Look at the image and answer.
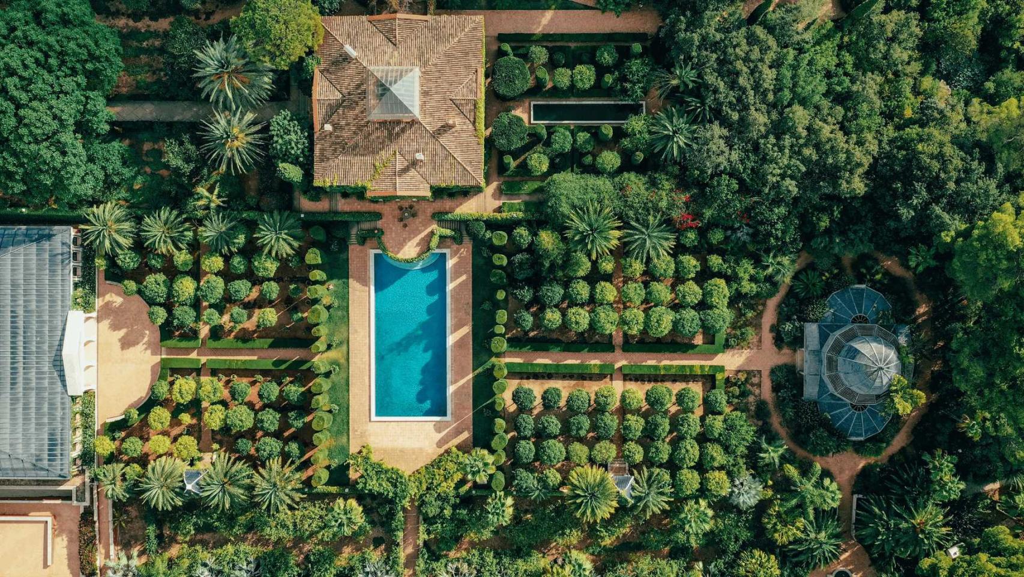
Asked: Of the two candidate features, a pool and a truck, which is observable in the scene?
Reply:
pool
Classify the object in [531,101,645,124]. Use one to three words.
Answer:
pond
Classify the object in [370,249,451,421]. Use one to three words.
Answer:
swimming pool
